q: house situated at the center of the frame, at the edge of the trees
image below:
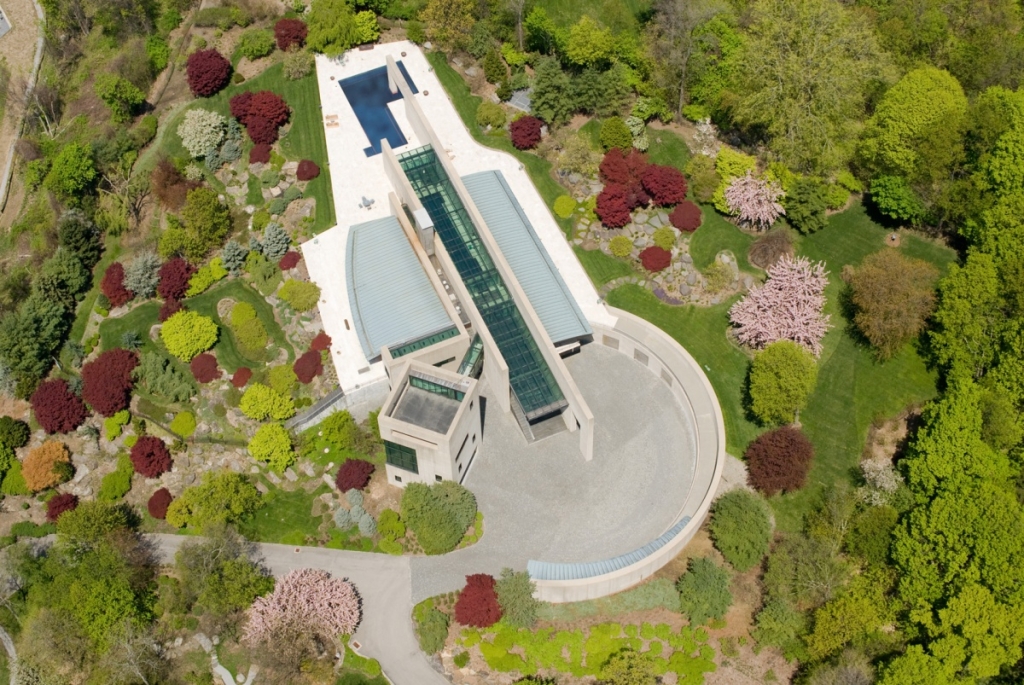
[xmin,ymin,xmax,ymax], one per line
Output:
[348,55,594,503]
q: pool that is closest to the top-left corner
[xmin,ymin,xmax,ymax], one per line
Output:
[340,62,418,156]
